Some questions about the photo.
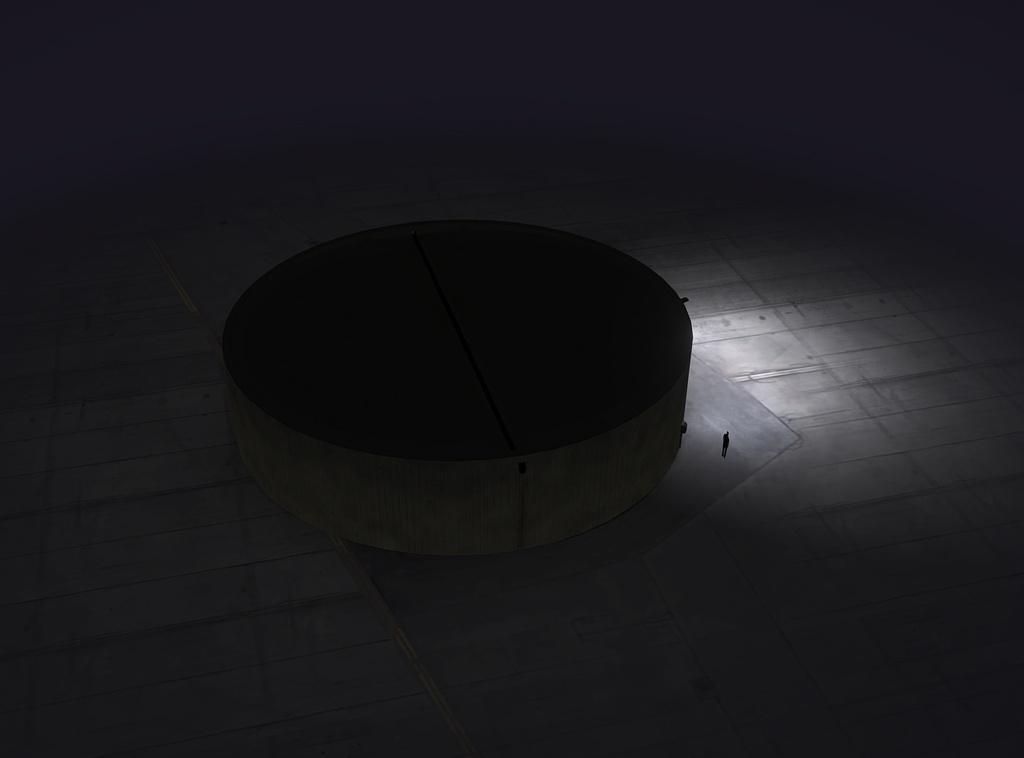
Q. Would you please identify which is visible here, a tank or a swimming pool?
tank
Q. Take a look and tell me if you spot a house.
No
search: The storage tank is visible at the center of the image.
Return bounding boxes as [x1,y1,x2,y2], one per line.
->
[222,221,693,555]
